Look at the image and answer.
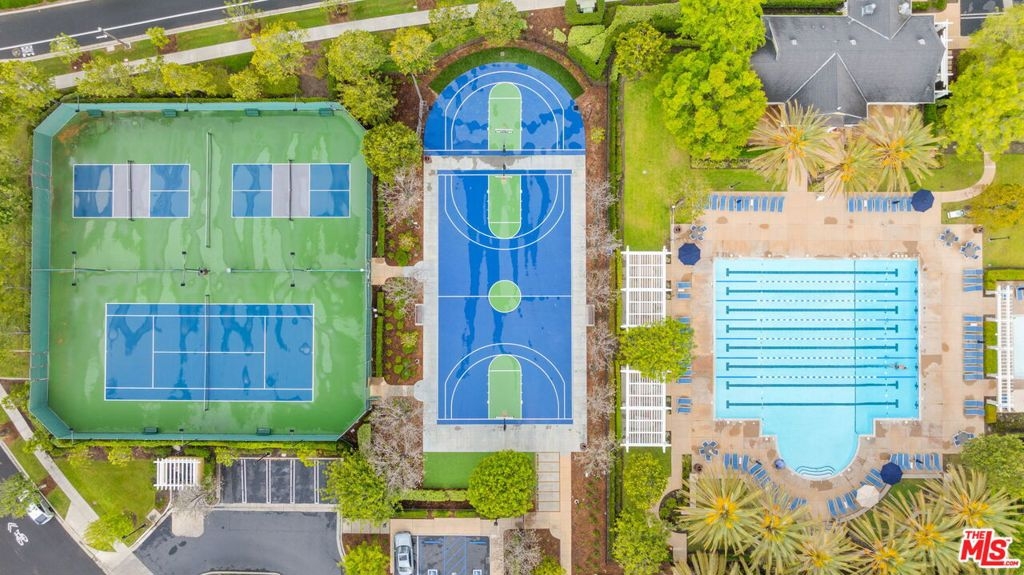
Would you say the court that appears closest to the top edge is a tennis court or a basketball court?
basketball court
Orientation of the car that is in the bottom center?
from top to bottom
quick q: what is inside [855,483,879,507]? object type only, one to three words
umbrella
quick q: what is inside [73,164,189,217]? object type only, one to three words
sports court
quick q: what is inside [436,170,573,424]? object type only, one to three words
basketball court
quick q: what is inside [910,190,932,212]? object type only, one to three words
umbrella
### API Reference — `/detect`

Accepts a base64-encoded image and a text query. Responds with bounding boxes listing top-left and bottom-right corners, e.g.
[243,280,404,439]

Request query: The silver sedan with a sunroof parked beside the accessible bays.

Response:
[393,529,413,574]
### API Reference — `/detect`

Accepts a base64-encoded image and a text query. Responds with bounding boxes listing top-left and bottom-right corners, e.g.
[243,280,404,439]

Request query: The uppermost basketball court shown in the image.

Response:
[424,62,584,154]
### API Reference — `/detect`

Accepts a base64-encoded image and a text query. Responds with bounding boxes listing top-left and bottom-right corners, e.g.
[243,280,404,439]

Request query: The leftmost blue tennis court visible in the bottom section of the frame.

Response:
[105,304,313,402]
